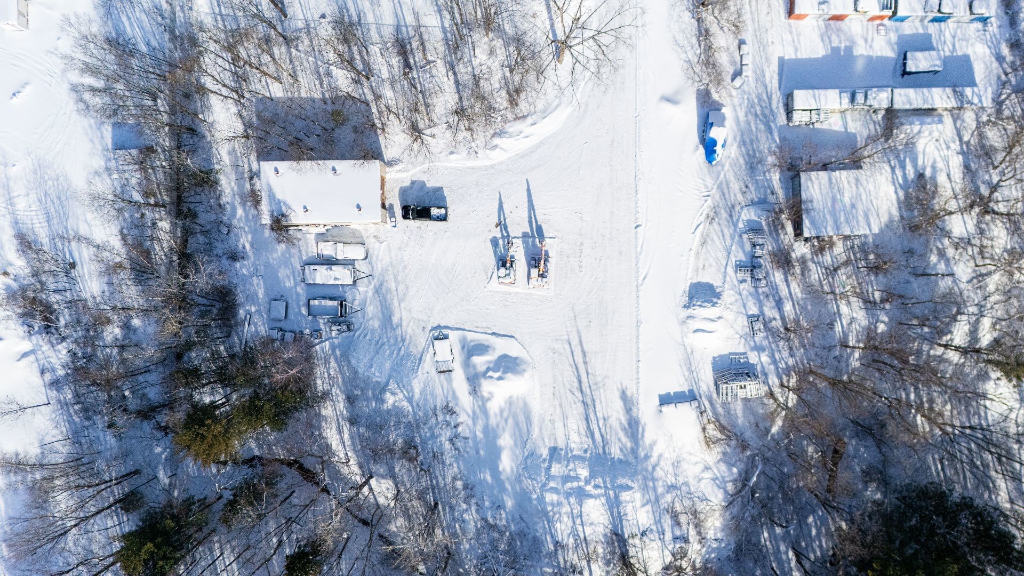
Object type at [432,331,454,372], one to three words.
trailer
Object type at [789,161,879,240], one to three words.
building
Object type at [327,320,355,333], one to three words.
vehicle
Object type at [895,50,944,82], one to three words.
shed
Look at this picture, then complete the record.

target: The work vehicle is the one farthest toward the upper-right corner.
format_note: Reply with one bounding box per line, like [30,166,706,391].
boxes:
[531,239,549,282]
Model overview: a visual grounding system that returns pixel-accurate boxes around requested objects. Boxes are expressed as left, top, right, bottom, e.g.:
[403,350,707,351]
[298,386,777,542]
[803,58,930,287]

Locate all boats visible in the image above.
[702,110,729,165]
